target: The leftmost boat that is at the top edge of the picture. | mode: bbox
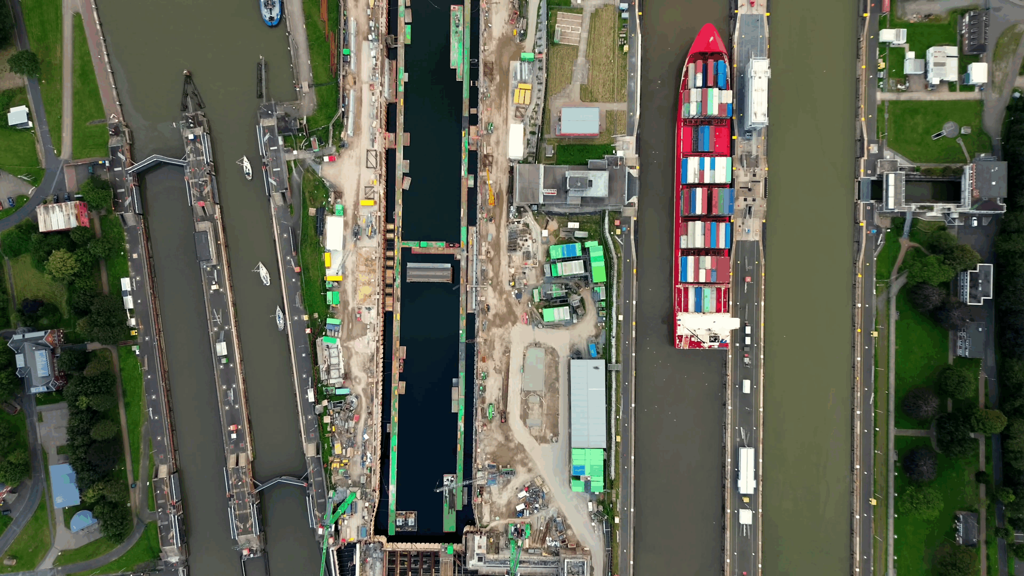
[260,0,285,29]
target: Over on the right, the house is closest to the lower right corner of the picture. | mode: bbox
[947,506,975,541]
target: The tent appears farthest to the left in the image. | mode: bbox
[327,216,346,251]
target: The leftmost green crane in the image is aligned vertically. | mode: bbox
[318,492,357,576]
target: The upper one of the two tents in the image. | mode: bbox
[509,124,523,161]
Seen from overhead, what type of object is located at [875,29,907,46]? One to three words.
shed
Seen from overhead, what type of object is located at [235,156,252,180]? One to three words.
boat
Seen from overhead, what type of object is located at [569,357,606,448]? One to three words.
building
